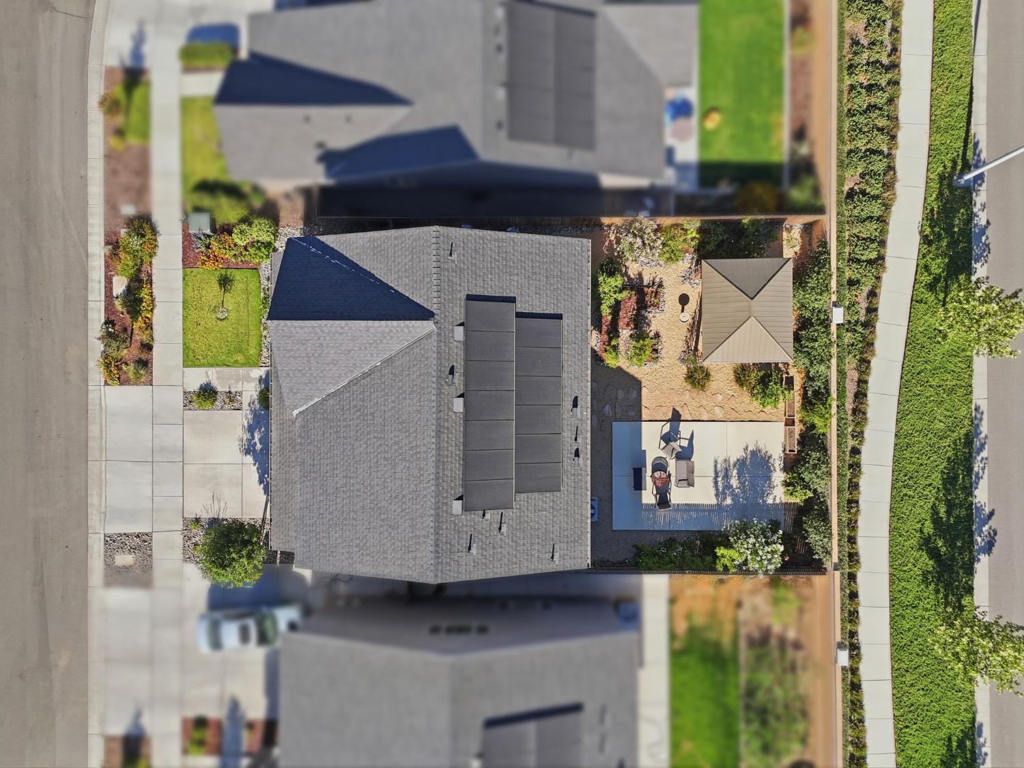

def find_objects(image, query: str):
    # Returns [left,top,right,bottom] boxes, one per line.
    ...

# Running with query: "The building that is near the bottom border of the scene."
[276,598,643,768]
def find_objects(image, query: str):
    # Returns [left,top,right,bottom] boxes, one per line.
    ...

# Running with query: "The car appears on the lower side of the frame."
[194,599,304,655]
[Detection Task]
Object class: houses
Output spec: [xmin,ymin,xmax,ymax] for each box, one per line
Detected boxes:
[276,598,643,768]
[268,226,593,583]
[211,0,700,193]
